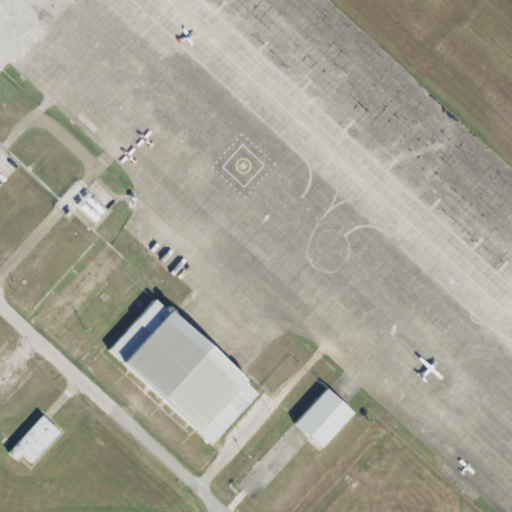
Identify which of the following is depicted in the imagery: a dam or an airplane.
airplane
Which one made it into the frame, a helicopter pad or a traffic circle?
helicopter pad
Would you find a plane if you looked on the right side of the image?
Yes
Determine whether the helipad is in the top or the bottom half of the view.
top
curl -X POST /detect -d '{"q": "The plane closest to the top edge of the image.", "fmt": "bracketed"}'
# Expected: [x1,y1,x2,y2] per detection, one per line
[179,28,194,46]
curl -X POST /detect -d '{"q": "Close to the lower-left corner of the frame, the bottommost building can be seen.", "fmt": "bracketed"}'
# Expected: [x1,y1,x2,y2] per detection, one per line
[7,414,61,464]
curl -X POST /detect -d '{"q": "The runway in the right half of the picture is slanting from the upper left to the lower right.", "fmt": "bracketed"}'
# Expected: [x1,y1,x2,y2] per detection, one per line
[200,0,512,284]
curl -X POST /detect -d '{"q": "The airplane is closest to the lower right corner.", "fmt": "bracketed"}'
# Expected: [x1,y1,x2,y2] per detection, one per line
[458,460,475,475]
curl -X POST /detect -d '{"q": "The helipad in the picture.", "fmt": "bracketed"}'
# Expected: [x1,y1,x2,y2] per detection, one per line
[212,133,276,198]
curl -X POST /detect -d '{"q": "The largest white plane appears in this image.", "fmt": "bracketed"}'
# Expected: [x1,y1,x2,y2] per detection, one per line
[418,358,444,382]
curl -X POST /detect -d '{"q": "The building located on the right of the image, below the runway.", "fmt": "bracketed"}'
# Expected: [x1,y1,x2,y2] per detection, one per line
[292,388,356,448]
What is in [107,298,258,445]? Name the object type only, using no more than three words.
hangar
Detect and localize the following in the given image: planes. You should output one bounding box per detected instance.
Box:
[138,132,153,147]
[418,358,444,382]
[458,460,475,475]
[122,148,136,164]
[179,28,194,46]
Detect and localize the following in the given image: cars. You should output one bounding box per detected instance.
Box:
[106,200,116,209]
[8,158,18,168]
